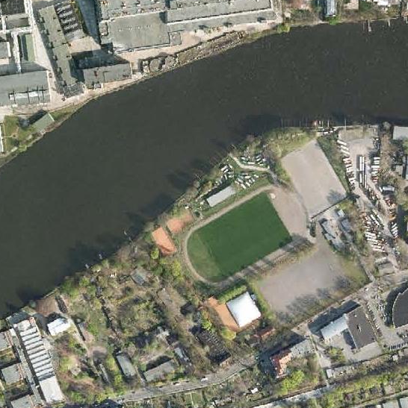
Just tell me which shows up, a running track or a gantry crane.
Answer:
running track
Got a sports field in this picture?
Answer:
Yes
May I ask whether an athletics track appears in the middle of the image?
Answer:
Yes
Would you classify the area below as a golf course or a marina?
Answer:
marina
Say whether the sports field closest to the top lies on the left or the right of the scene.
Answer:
right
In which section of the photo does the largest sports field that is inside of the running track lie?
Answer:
center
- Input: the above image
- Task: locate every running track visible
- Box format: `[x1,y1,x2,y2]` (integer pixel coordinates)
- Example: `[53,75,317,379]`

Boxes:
[180,183,303,282]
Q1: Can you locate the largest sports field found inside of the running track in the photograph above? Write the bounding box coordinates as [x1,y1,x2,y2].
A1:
[195,192,288,274]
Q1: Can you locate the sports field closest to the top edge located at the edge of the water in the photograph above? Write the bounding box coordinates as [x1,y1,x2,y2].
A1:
[282,138,347,217]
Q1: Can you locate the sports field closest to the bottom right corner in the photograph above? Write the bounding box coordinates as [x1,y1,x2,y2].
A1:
[258,251,366,321]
